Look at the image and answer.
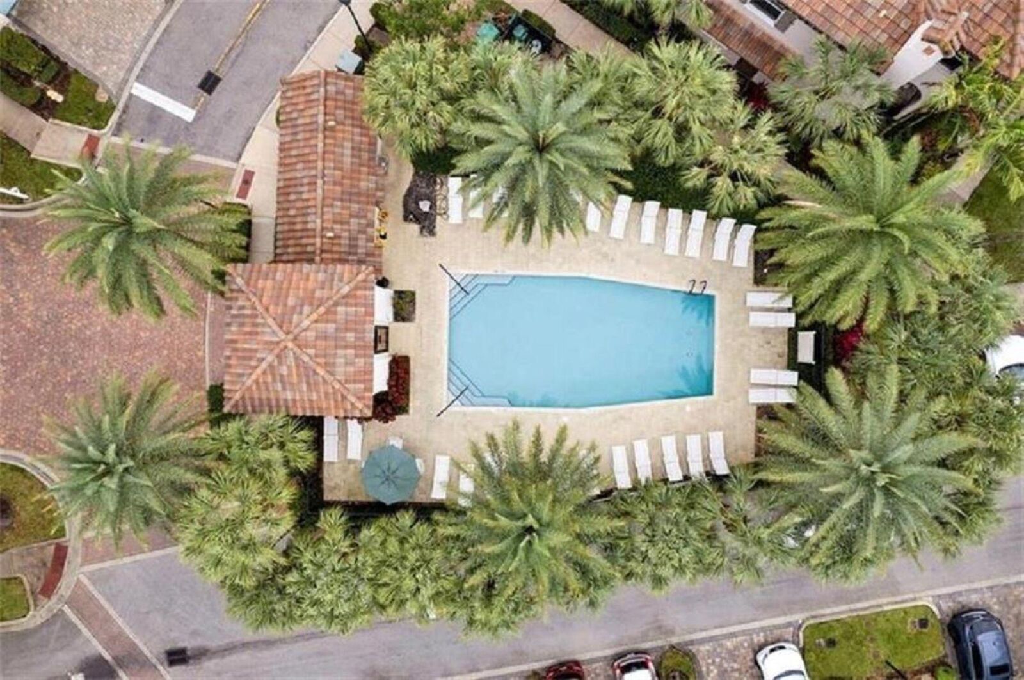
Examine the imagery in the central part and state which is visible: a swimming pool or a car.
swimming pool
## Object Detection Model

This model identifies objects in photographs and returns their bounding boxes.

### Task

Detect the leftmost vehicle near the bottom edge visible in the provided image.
[545,656,588,680]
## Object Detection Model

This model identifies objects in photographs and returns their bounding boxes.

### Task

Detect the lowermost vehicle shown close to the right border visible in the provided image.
[942,606,1015,680]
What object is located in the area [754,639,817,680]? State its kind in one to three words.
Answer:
car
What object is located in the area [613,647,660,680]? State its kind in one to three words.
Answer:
car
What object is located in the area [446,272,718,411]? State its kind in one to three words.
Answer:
swimming pool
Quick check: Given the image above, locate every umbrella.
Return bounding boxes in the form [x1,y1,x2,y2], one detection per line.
[359,440,424,506]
